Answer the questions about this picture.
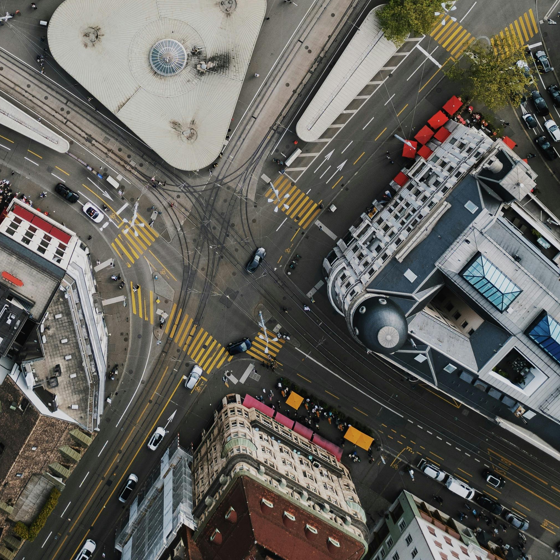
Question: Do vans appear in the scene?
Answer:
Yes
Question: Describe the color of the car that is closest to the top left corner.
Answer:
black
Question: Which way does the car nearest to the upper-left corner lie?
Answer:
on a diagonal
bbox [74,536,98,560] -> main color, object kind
white car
